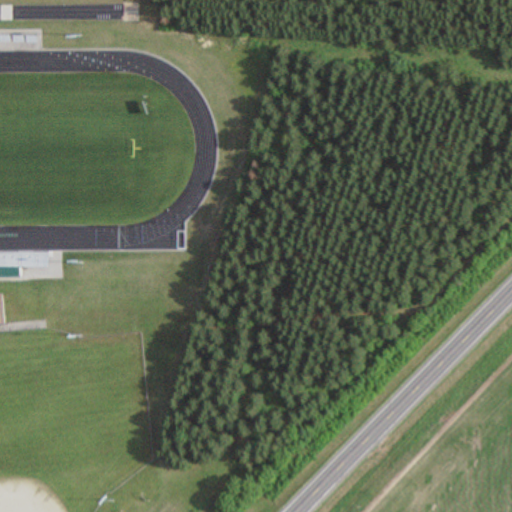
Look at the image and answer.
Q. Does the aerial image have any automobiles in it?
No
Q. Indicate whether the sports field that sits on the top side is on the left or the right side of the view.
left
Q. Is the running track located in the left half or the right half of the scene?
left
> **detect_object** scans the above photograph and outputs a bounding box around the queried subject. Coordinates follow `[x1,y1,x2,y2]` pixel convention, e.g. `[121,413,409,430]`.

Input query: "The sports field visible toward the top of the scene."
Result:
[0,74,194,224]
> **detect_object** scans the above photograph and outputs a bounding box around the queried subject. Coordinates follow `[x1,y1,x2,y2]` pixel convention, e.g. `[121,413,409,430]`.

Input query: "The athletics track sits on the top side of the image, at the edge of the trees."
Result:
[0,50,218,250]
